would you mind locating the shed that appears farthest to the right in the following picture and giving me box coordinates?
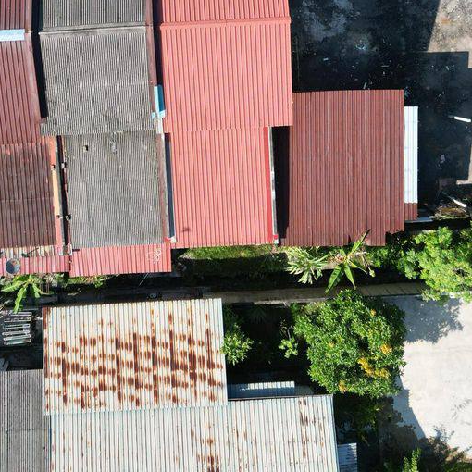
[282,89,419,249]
